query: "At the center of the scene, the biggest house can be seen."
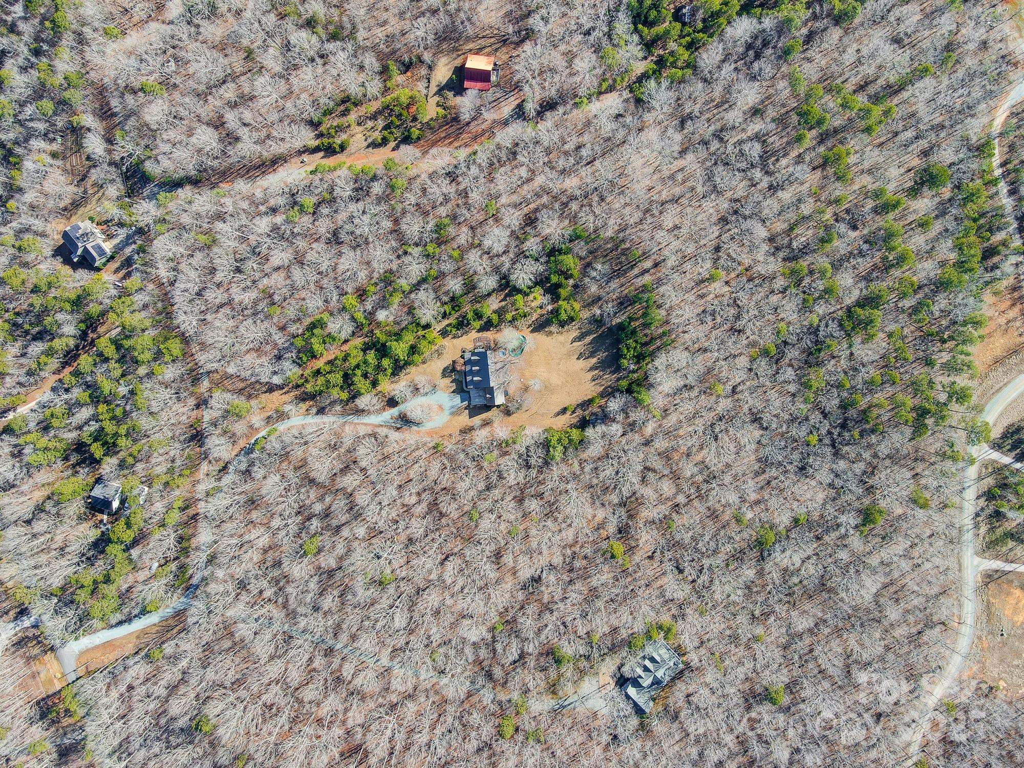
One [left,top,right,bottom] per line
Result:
[462,349,509,405]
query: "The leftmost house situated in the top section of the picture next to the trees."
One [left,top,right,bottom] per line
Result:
[63,222,116,267]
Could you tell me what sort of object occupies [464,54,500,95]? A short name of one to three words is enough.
barn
